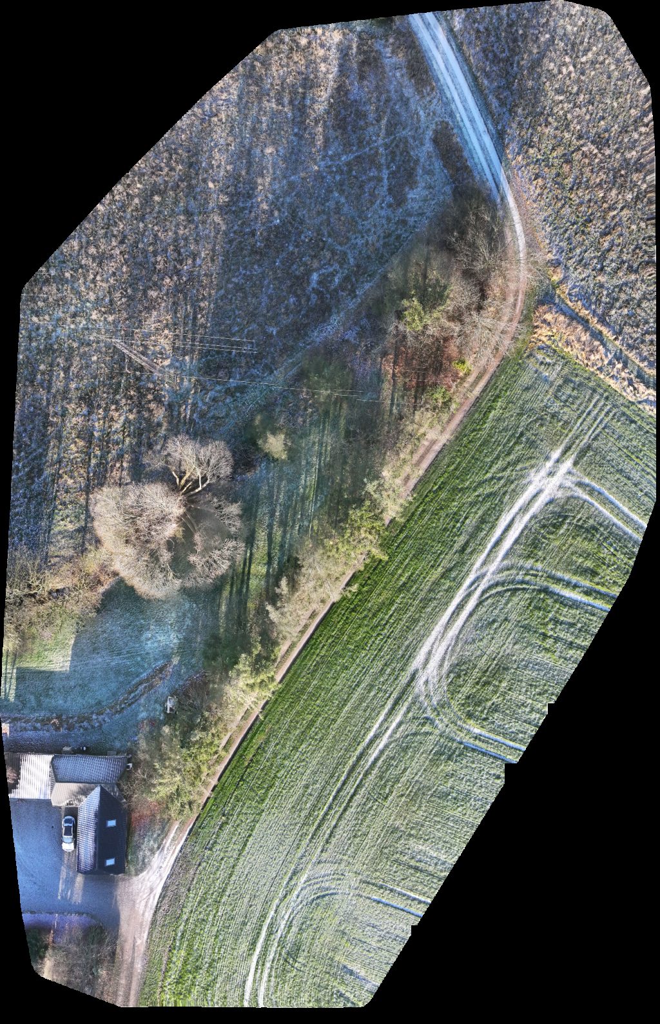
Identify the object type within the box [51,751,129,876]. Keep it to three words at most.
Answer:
house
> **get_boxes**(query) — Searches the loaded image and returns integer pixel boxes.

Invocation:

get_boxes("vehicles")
[59,814,77,851]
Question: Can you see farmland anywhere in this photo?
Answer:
Yes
